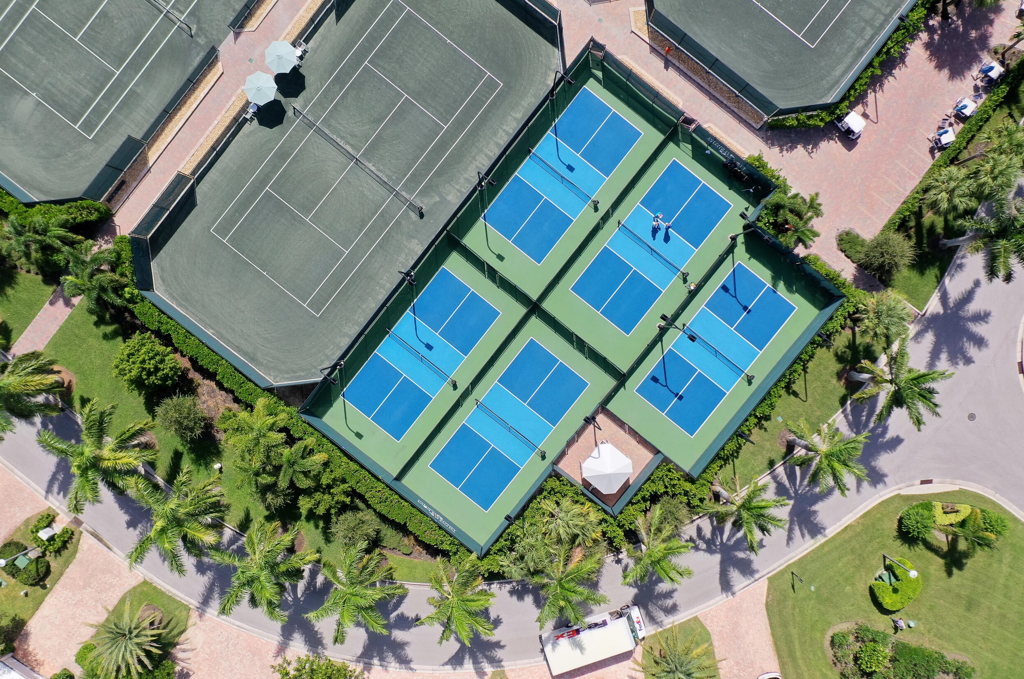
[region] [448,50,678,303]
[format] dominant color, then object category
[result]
blue sports court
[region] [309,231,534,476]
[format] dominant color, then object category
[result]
blue sports court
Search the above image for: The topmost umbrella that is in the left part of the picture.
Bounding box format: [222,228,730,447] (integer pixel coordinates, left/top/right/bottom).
[264,40,298,75]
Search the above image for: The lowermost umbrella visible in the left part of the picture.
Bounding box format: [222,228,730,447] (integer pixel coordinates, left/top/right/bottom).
[245,72,277,105]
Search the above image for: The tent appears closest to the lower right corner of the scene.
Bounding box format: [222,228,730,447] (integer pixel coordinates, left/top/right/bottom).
[582,438,633,494]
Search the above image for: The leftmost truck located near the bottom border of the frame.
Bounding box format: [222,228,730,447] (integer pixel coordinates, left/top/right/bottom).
[541,600,648,676]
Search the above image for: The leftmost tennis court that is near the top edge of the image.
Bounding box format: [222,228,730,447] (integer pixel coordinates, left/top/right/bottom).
[0,0,251,197]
